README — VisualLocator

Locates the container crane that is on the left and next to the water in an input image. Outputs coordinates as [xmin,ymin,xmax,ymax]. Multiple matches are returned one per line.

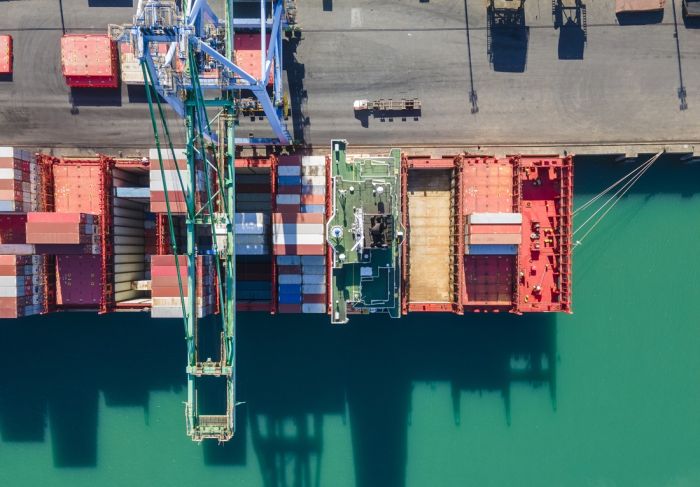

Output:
[107,0,308,443]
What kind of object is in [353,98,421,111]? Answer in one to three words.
vehicle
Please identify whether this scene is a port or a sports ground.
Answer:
port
